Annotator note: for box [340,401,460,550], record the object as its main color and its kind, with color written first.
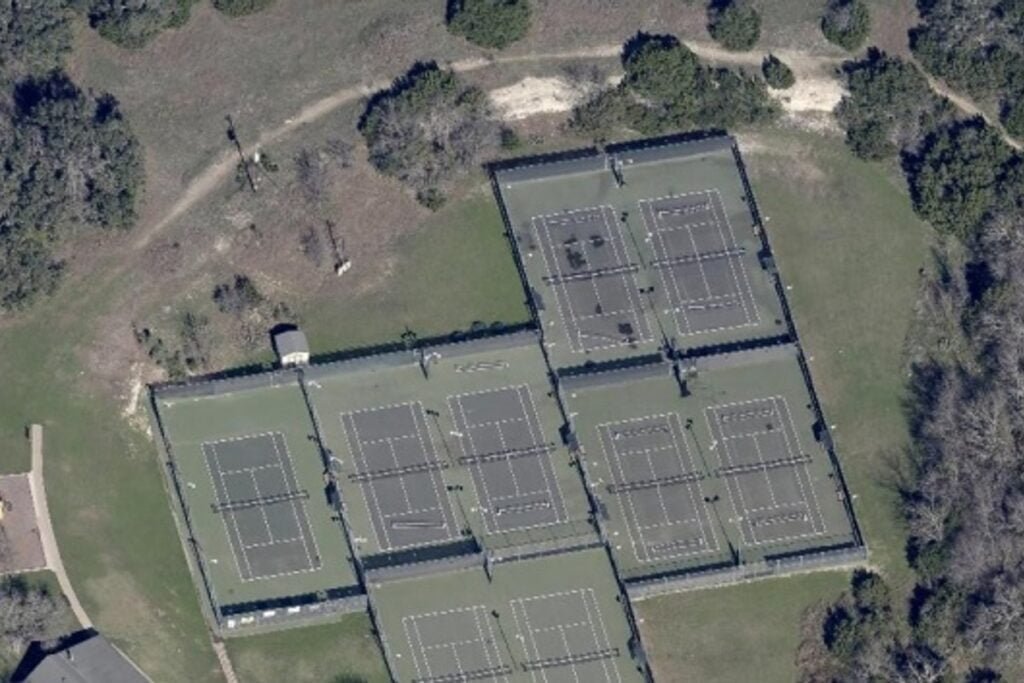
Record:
gray tennis court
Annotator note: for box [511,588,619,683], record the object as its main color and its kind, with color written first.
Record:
gray tennis court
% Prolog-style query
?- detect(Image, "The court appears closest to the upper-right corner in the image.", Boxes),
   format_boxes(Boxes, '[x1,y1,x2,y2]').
[639,189,759,335]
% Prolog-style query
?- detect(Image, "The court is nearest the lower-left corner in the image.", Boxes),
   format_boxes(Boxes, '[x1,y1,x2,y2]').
[202,431,322,581]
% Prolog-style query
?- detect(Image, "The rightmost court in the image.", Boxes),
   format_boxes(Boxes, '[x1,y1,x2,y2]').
[704,396,826,545]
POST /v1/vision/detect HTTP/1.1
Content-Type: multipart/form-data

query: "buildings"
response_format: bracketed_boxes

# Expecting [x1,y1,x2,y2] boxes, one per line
[276,329,310,369]
[24,634,148,683]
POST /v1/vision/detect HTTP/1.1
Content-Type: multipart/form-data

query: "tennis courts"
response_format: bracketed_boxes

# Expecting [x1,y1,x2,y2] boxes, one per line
[533,205,652,351]
[403,606,506,683]
[202,431,322,581]
[340,401,460,550]
[704,396,826,545]
[511,588,619,683]
[597,412,719,562]
[448,385,568,534]
[639,189,759,335]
